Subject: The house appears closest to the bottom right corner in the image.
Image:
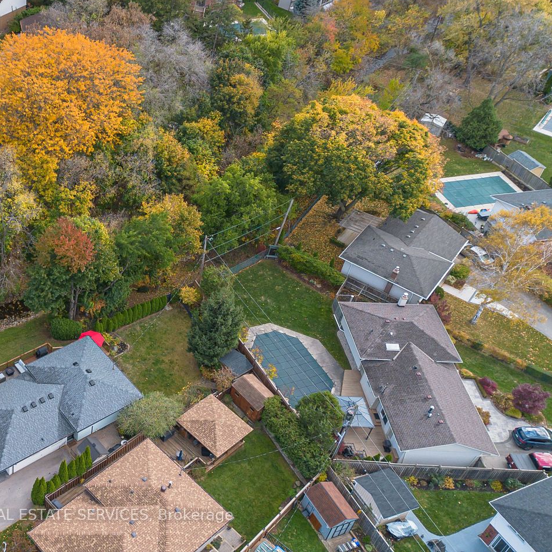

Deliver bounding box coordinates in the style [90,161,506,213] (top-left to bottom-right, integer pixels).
[484,476,552,552]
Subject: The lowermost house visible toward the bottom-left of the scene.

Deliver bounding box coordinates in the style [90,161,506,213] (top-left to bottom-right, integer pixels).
[27,438,234,552]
